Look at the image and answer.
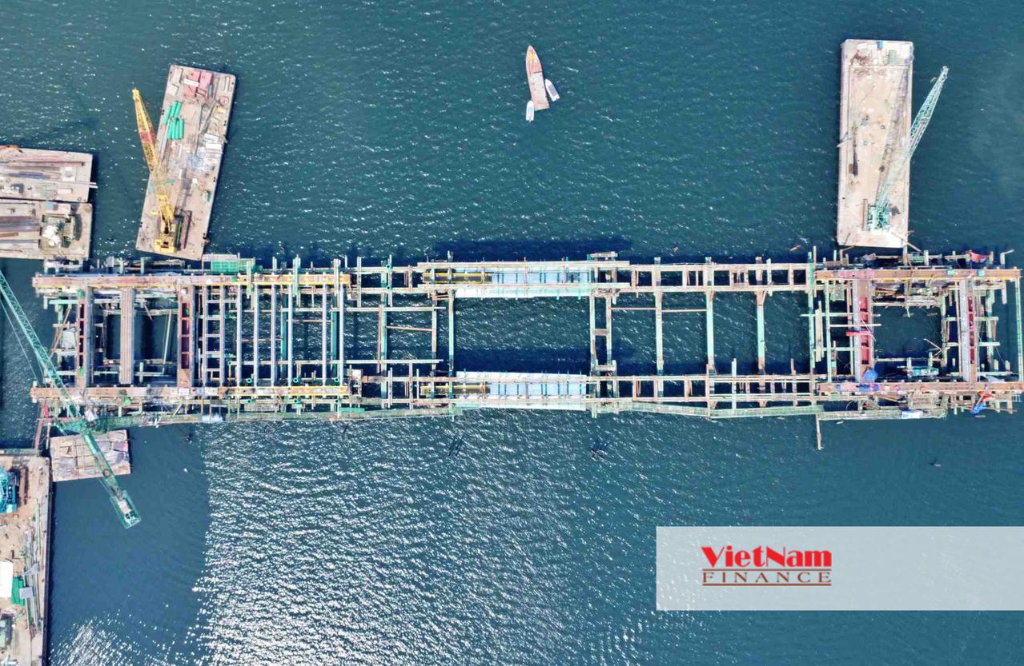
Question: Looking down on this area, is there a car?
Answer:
No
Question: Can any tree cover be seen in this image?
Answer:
No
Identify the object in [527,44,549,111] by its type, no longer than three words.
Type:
boat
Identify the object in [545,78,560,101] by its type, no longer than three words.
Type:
boat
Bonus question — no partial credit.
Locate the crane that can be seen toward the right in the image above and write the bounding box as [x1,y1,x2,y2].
[859,62,949,233]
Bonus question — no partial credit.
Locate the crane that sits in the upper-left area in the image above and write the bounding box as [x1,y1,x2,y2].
[132,87,187,256]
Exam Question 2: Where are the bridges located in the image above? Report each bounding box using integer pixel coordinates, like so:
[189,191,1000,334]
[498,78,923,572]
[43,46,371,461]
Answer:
[30,233,1024,450]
